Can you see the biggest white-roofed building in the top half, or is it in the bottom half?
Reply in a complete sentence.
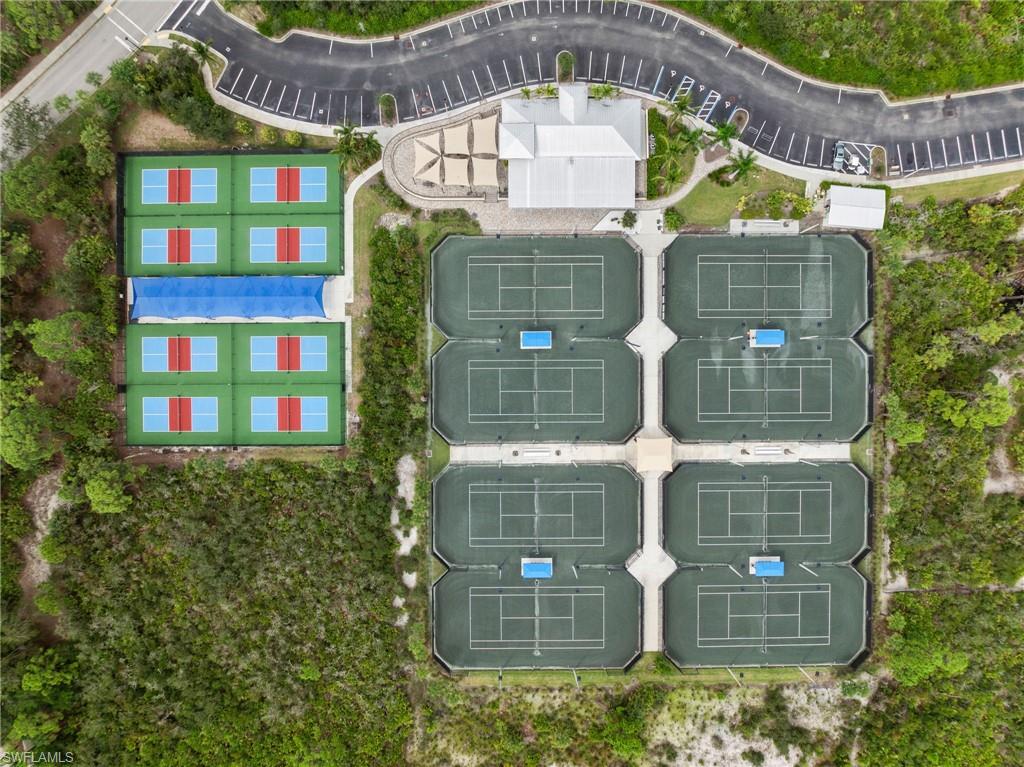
Seen from above, the biggest white-roofed building lies in the top half of the view.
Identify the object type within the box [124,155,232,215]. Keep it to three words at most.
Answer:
sports court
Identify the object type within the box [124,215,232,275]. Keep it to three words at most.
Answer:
sports court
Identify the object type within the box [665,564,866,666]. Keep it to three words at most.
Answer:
tennis court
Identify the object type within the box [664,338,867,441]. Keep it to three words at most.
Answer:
tennis court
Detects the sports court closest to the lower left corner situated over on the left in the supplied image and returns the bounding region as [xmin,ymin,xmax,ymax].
[127,384,234,445]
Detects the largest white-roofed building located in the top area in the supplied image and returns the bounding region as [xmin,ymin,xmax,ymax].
[499,84,641,209]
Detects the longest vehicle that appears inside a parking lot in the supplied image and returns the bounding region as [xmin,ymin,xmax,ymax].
[831,142,847,171]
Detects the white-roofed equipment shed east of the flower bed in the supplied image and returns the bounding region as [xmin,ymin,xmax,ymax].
[823,185,886,231]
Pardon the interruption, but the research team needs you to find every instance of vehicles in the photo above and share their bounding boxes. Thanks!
[831,142,847,171]
[849,154,863,170]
